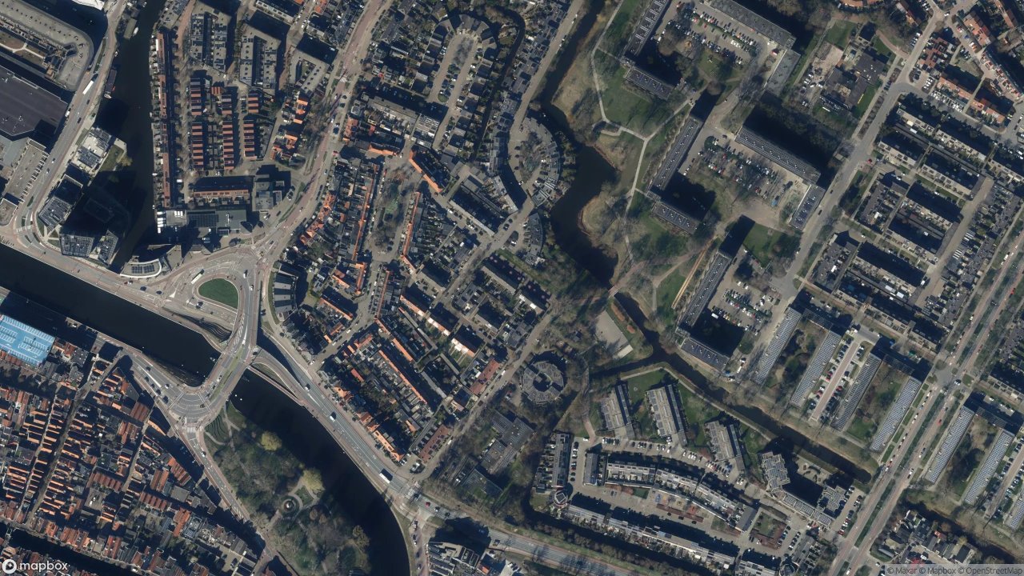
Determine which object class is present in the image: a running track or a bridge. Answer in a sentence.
It is a bridge that can be seen here.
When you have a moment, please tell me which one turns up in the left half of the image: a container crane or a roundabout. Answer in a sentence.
There is a roundabout in the left half of the image.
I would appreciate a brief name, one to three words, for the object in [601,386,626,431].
building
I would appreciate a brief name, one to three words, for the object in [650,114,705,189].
building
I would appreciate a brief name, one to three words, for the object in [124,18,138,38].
boat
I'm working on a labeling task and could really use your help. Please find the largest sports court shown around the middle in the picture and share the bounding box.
[594,311,632,359]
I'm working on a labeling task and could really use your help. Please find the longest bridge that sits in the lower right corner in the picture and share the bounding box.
[856,469,917,514]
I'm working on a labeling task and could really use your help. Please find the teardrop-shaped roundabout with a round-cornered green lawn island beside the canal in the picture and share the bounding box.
[161,257,256,397]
